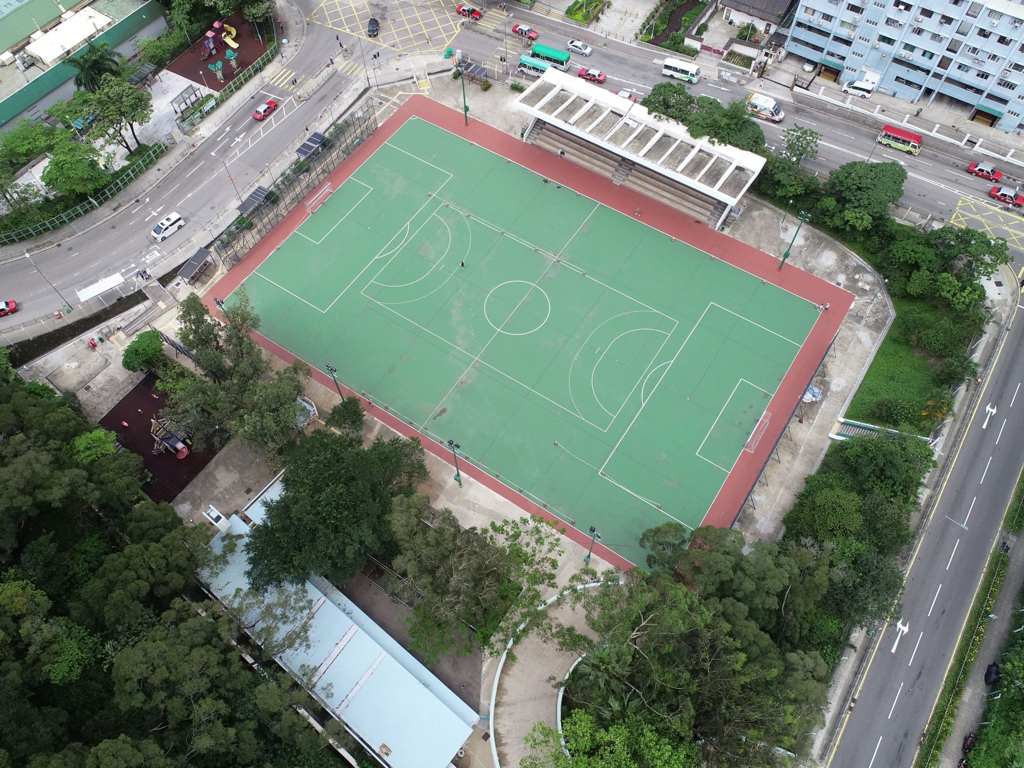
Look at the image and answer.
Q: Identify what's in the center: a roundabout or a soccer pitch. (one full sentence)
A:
It is a soccer pitch that can be seen in the center.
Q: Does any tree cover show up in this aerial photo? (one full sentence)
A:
Yes, the picture does contain tree cover.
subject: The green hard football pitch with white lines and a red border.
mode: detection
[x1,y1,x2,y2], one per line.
[197,92,856,601]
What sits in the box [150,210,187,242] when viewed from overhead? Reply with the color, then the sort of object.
white vehicle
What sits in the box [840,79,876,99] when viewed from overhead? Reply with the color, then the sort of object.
white vehicle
